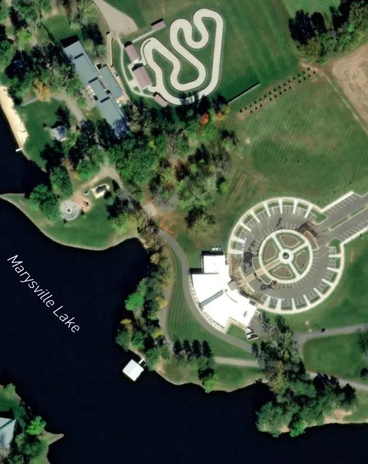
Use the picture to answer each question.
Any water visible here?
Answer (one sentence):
Yes, water can be seen from above here.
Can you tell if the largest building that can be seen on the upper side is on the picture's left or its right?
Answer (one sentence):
The largest building that can be seen on the upper side sits on the left side.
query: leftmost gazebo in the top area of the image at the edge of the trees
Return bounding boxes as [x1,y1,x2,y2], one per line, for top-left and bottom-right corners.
[53,126,65,142]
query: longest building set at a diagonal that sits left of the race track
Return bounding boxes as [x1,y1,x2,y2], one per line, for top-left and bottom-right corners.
[64,41,130,139]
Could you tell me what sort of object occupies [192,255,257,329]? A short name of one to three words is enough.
building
